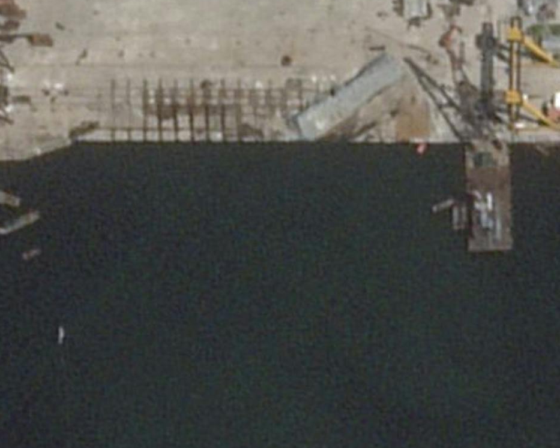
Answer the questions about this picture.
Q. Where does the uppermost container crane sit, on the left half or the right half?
right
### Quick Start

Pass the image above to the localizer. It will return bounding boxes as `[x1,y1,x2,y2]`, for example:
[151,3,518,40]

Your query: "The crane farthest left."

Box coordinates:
[445,29,514,253]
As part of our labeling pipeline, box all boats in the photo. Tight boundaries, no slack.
[452,205,457,230]
[417,143,424,153]
[0,209,41,231]
[461,206,466,229]
[433,199,455,211]
[22,249,41,260]
[0,193,22,210]
[57,326,63,345]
